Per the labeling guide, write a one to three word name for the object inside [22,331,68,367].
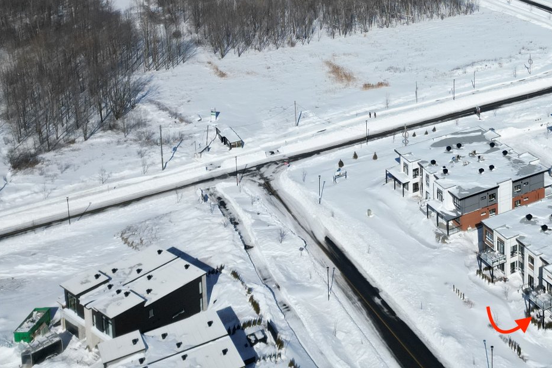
trailer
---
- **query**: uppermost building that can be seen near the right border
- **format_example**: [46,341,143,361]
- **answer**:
[387,129,552,235]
